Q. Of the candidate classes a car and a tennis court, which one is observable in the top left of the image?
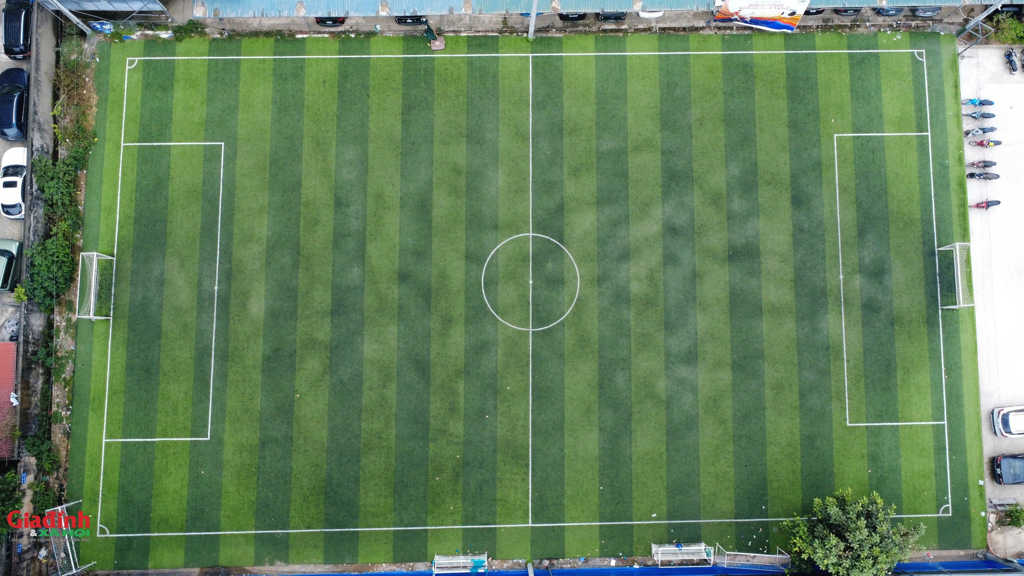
car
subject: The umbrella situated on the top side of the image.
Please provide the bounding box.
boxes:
[422,12,445,50]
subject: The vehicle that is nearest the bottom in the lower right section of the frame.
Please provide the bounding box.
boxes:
[991,452,1024,484]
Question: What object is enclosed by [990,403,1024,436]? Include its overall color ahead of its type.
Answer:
white car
